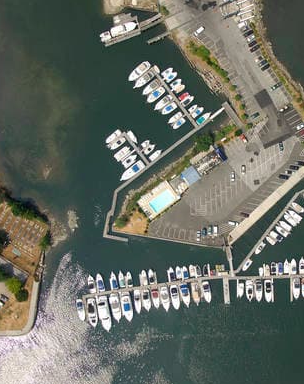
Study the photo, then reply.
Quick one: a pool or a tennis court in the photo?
pool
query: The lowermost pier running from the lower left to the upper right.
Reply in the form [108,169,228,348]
[231,188,304,277]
